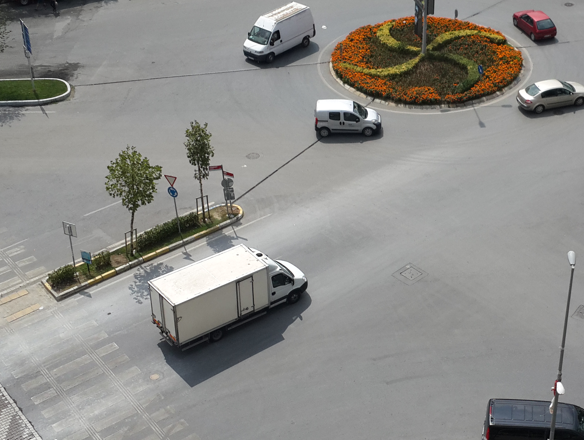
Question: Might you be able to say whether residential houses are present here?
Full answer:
No, there isn't any residential house down there.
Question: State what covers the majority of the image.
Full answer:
The largest share of the image is taken up by paved ground.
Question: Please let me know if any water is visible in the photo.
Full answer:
No, the picture contains no water.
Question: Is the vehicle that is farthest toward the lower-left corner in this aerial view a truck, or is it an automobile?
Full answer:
In the photo, the vehicle that is farthest toward the lower-left corner shows up as a truck.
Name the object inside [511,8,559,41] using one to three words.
car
